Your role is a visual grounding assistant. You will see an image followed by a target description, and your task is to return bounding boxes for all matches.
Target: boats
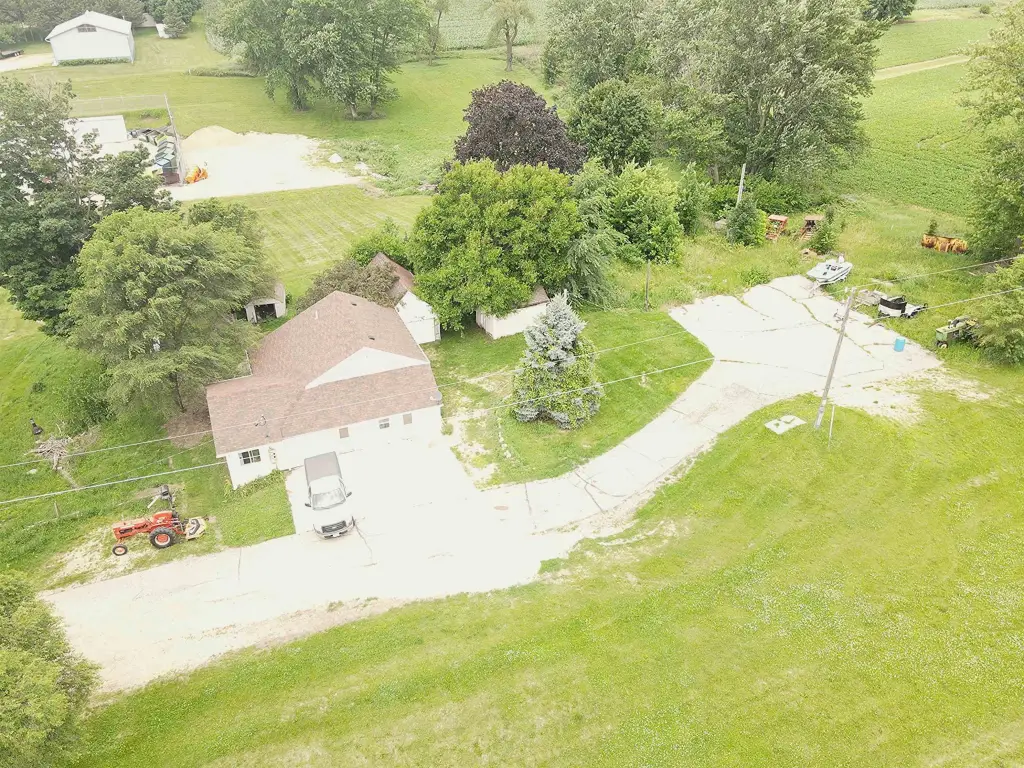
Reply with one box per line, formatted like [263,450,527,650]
[809,253,863,278]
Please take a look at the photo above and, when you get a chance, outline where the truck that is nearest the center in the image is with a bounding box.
[297,449,354,539]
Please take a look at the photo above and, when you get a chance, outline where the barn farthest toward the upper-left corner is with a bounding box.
[41,7,135,66]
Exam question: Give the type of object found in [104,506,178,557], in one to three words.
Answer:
work vehicle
